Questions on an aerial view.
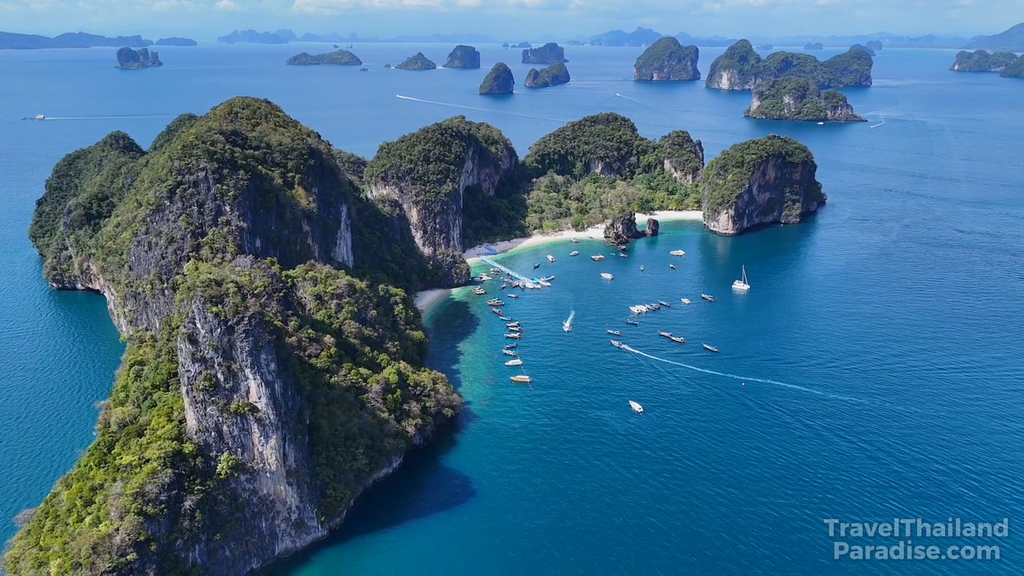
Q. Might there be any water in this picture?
Yes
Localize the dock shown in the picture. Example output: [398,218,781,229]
[478,244,540,283]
